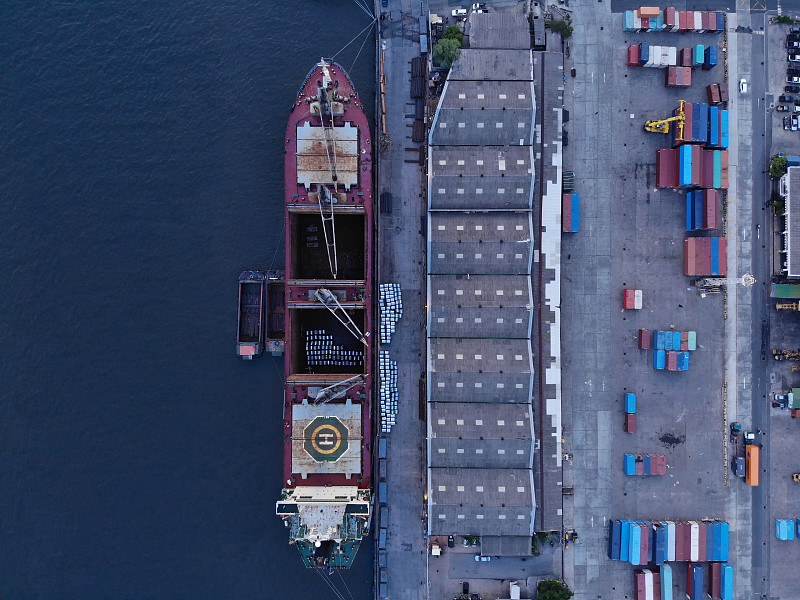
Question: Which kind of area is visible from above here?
port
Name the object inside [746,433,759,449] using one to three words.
vehicle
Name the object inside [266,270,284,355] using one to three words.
ship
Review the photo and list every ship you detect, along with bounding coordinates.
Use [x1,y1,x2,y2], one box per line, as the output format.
[237,270,264,358]
[276,56,374,577]
[266,270,284,355]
